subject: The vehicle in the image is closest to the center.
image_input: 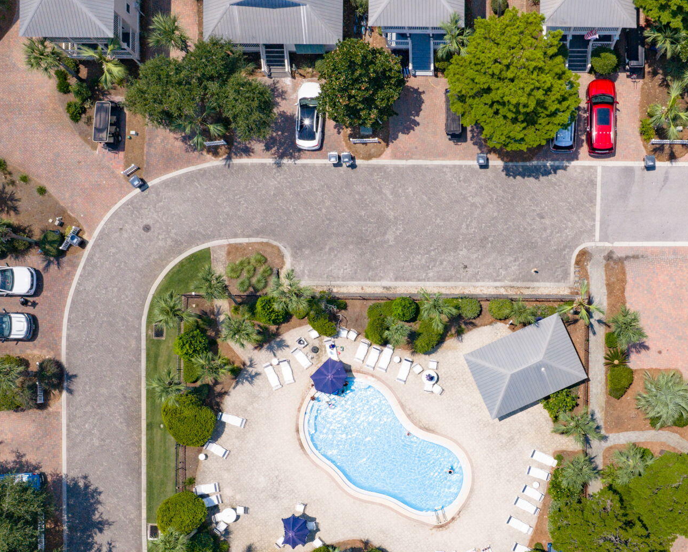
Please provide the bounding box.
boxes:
[291,82,325,150]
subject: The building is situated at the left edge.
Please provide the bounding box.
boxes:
[18,0,138,57]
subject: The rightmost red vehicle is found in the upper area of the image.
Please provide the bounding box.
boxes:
[584,82,619,156]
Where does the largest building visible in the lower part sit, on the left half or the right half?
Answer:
right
